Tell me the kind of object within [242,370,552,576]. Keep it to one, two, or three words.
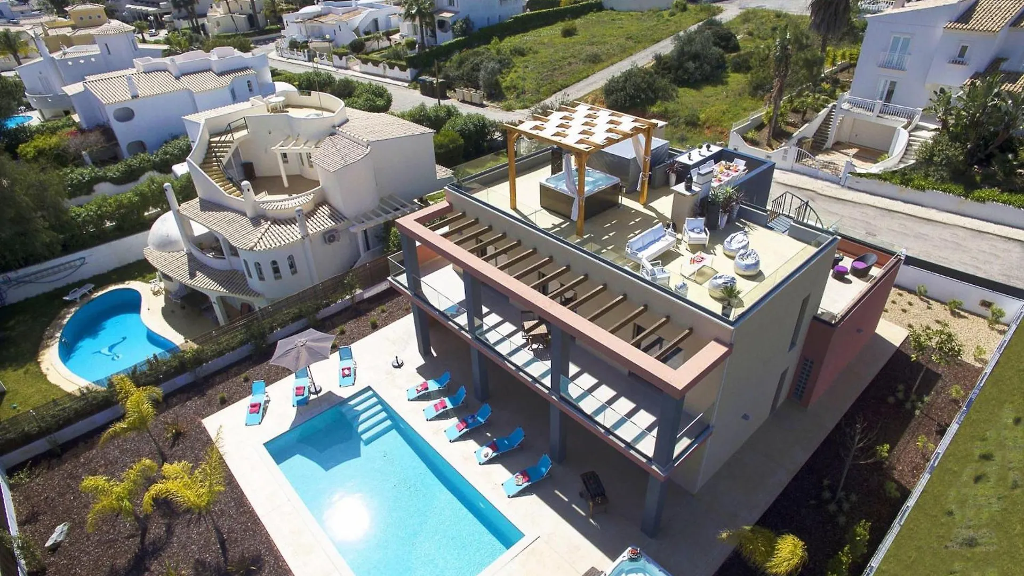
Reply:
swimming pool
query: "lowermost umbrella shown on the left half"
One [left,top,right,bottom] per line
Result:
[271,328,335,396]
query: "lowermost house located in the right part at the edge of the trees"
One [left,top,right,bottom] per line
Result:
[388,137,904,539]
